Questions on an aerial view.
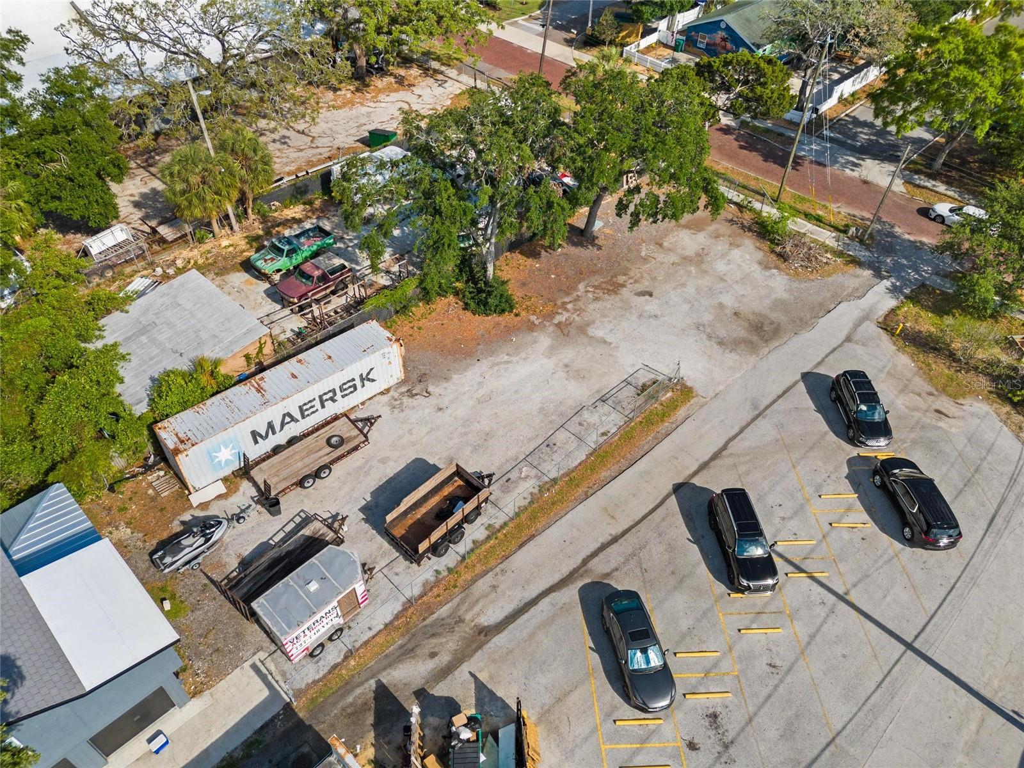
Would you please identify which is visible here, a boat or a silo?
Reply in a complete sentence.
The one in the frame is a boat.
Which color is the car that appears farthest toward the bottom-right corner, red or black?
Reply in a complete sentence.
The car that appears farthest toward the bottom-right corner looks black in the image.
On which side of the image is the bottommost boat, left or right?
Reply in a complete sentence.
The bottommost boat appears in the left half of the scene.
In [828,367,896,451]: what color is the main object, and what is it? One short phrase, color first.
black car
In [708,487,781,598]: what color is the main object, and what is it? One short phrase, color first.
black car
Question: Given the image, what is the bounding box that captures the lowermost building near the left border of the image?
[0,483,200,768]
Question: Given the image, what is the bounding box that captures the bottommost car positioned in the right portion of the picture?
[600,587,679,716]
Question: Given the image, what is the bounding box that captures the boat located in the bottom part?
[156,519,229,578]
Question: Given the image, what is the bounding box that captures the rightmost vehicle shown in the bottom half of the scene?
[871,456,964,553]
